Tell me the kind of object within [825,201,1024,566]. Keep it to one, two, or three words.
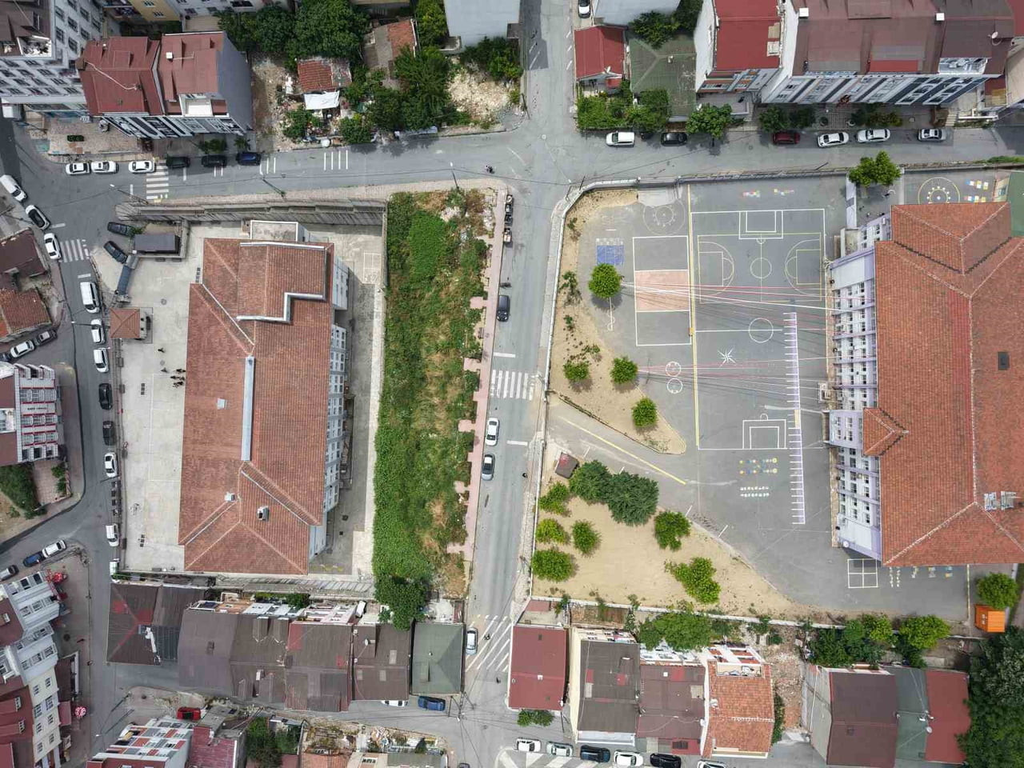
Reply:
building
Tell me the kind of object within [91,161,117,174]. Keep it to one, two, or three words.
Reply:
vehicle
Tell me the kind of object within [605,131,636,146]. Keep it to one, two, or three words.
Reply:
vehicle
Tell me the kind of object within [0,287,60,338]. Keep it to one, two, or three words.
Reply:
house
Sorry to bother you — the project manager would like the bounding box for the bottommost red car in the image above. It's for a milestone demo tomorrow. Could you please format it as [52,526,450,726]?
[177,706,203,720]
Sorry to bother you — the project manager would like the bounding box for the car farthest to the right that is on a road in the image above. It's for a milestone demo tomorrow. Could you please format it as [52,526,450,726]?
[916,128,945,142]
